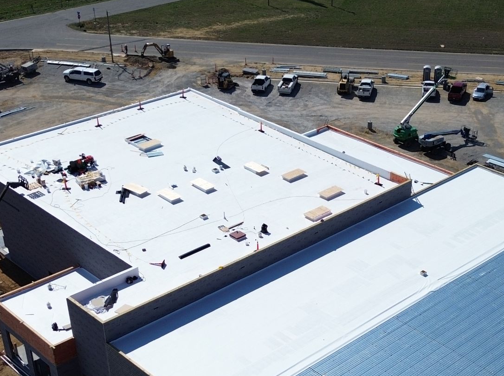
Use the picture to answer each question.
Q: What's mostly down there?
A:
buildings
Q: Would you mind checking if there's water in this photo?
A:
No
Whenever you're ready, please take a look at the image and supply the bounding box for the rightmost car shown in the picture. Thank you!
[471,85,491,101]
